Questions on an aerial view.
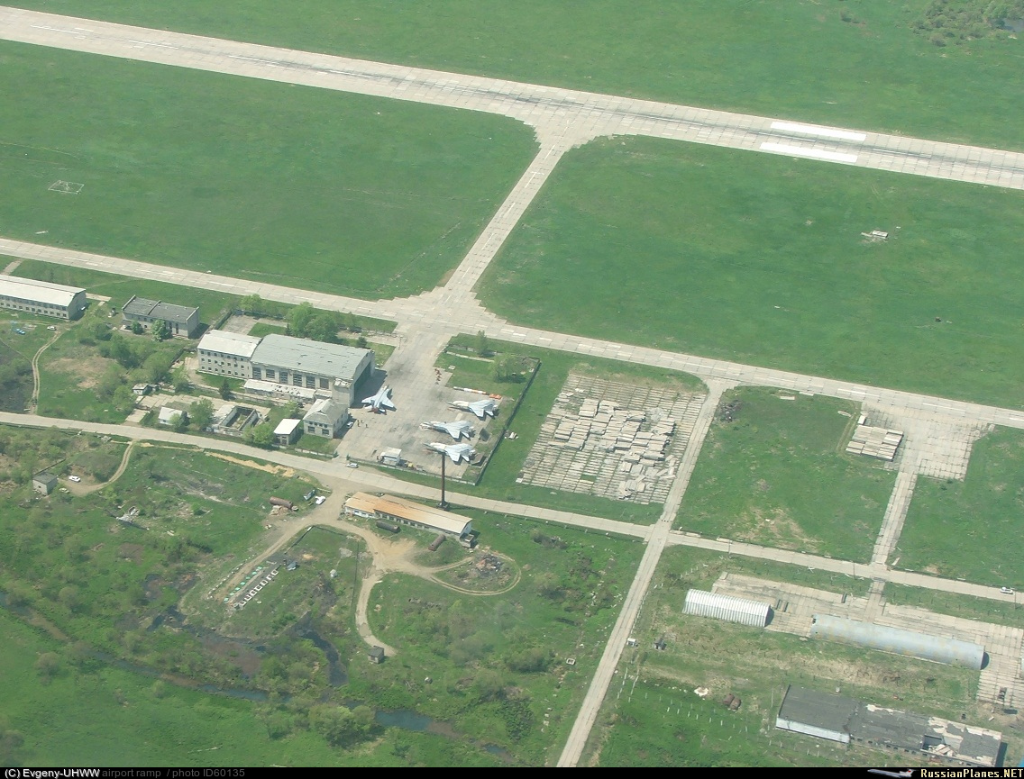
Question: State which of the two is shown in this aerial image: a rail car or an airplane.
airplane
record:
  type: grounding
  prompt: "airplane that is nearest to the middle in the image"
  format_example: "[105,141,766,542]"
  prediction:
[458,395,499,414]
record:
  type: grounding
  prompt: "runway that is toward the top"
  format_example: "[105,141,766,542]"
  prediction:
[0,5,1024,189]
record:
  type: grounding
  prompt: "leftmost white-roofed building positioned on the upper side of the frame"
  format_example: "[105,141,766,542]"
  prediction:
[0,277,83,319]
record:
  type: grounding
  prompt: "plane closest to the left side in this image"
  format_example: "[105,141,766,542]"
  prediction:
[361,383,396,412]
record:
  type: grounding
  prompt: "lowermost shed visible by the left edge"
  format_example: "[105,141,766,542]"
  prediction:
[32,469,60,494]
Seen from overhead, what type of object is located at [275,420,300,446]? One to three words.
shed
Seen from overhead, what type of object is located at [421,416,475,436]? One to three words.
airplane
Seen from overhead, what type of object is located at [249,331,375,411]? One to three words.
hangar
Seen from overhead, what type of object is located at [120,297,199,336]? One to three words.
building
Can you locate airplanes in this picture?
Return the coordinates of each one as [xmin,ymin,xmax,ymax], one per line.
[421,416,475,436]
[435,438,478,459]
[458,395,499,414]
[361,383,396,412]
